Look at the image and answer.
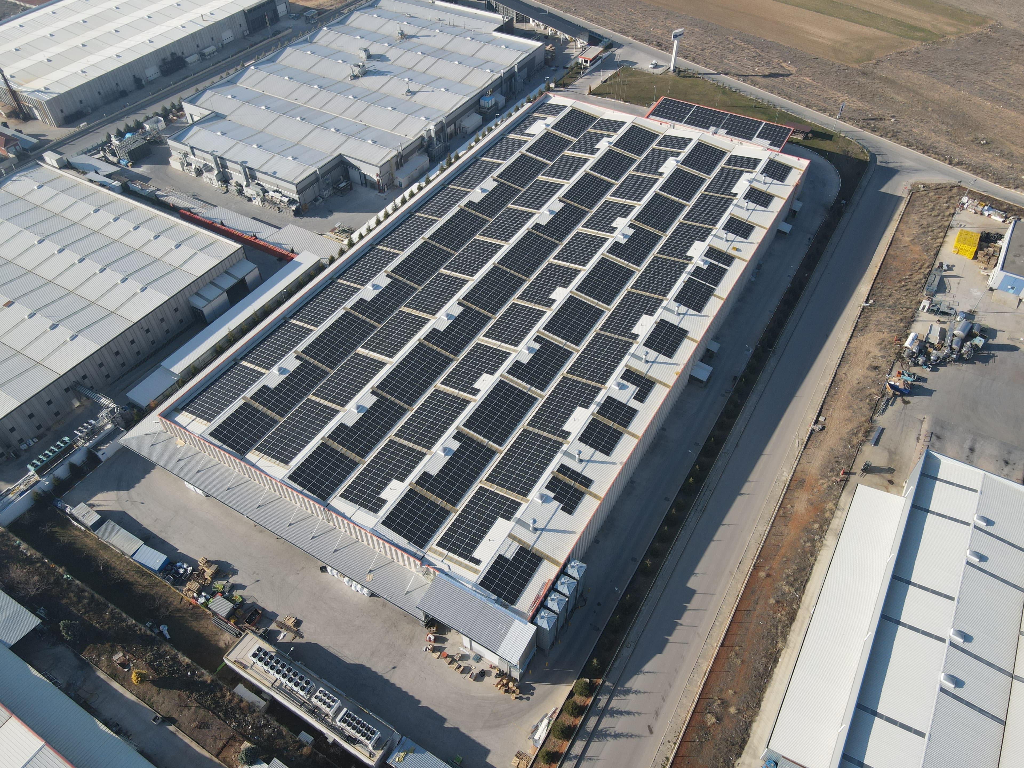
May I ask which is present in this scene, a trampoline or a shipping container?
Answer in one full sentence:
It is a shipping container that can be seen here.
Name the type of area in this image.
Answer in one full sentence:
The picture captures an industrial area.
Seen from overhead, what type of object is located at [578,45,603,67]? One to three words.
building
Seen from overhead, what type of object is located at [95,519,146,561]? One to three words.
shipping container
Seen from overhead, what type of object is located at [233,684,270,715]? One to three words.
shed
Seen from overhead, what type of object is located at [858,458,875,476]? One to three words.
work vehicle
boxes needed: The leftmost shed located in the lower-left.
[0,588,55,662]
